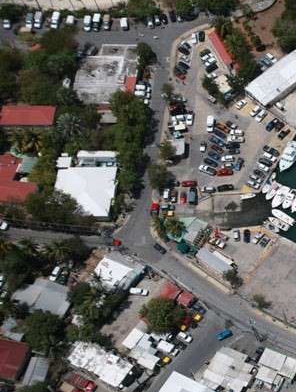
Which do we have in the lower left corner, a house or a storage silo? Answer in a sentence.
You can see a house in the lower left corner.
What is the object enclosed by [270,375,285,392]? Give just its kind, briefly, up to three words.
vehicle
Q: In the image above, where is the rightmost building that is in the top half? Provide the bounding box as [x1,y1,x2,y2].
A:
[245,49,296,111]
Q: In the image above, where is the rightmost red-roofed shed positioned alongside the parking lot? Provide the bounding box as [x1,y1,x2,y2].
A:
[208,30,232,70]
